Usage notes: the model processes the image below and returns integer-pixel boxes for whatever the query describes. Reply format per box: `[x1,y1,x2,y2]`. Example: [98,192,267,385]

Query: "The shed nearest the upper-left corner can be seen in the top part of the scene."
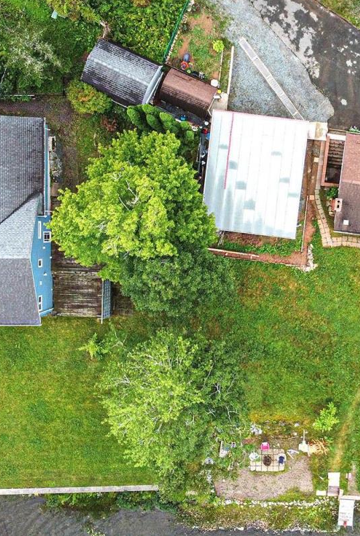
[80,38,164,106]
